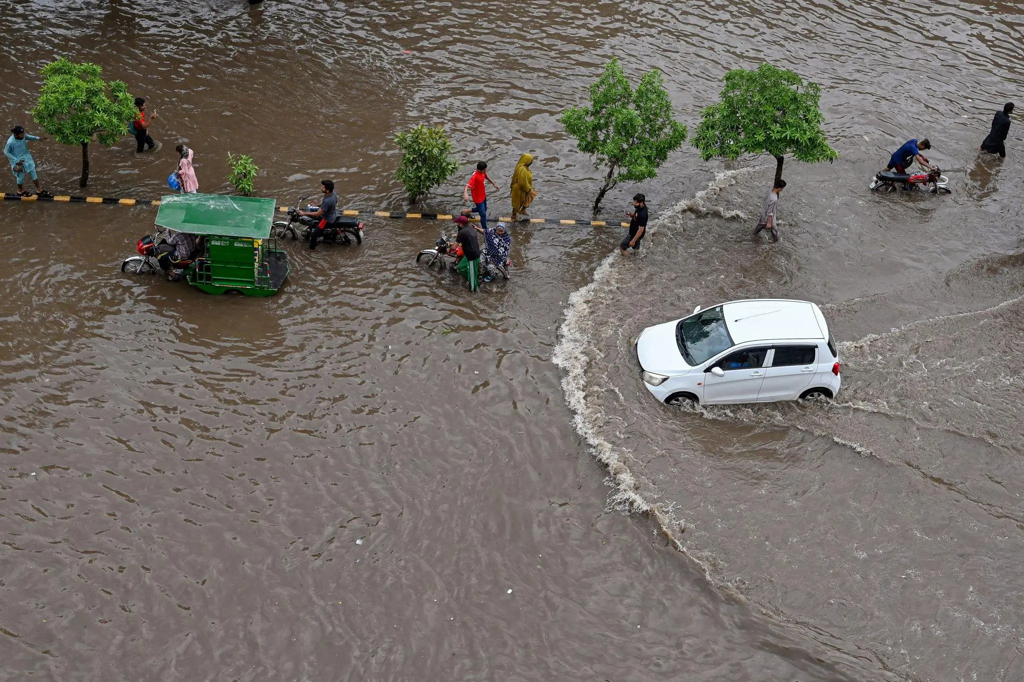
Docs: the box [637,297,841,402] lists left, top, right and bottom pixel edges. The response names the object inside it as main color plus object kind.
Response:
white car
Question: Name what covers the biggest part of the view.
water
